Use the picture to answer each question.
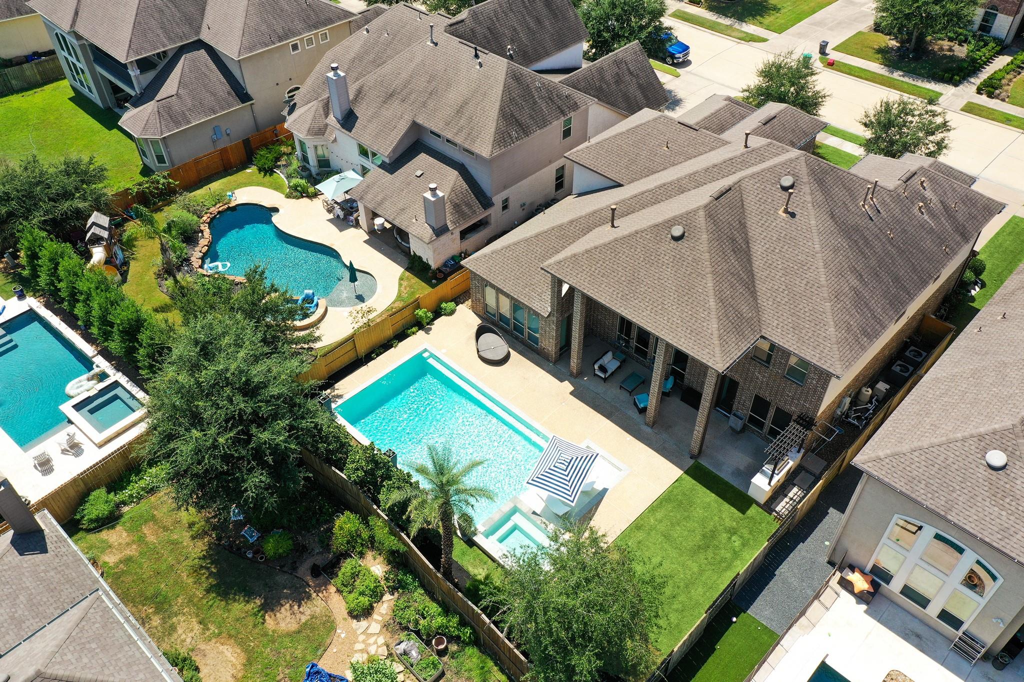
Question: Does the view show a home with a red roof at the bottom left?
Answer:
No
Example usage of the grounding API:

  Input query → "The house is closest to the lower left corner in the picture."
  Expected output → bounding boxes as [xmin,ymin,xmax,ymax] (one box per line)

[0,466,177,682]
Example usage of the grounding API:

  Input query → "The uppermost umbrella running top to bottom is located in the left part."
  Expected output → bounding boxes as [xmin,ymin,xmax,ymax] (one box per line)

[346,254,358,293]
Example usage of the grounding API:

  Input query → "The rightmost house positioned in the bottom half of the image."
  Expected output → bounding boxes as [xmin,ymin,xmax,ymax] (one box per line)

[824,261,1024,659]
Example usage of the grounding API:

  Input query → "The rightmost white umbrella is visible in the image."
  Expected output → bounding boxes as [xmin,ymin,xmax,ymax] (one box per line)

[527,436,598,506]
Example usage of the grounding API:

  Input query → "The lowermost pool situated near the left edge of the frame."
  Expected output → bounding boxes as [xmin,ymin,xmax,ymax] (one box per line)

[0,294,165,453]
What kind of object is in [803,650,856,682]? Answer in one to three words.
swimming pool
